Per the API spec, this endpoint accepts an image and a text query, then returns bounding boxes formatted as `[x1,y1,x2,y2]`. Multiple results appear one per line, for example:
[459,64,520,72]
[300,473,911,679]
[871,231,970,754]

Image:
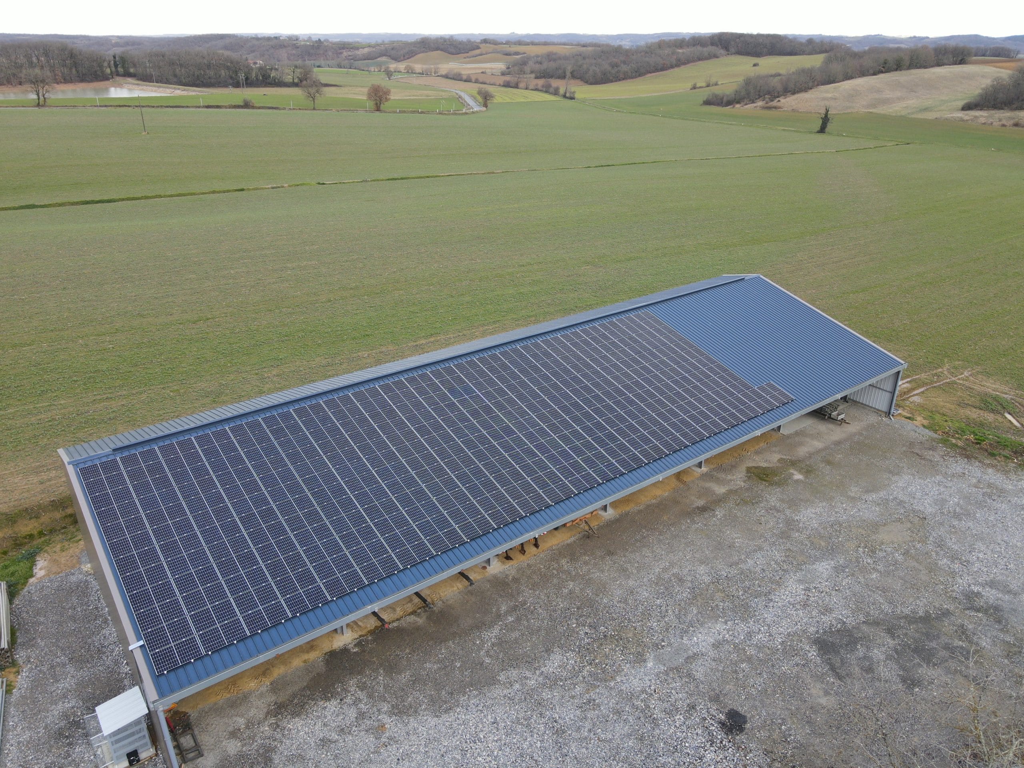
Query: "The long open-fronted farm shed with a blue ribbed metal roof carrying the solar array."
[56,274,910,768]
